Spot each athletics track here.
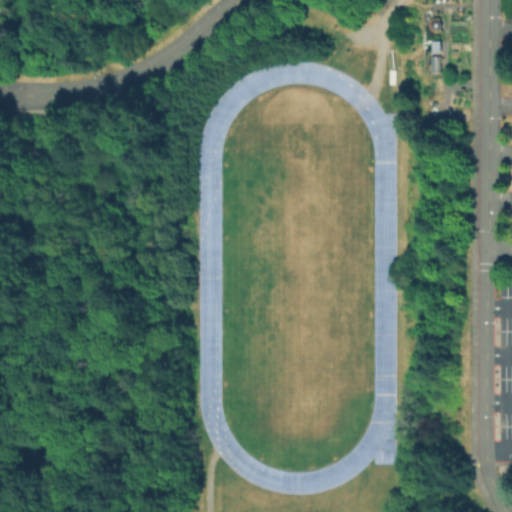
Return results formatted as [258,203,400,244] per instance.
[201,63,397,494]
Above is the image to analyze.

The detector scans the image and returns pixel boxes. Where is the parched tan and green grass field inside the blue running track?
[222,84,376,472]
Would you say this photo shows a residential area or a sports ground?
sports ground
